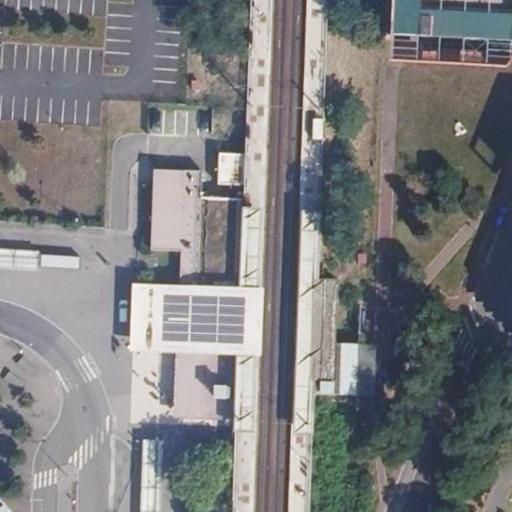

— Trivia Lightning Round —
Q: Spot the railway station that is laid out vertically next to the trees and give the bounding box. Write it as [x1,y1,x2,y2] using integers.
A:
[129,0,325,512]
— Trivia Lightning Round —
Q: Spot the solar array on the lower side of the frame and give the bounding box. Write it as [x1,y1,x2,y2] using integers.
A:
[160,294,246,346]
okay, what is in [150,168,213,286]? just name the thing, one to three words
building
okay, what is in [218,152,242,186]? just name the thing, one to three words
building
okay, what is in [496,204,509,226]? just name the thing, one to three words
vehicle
